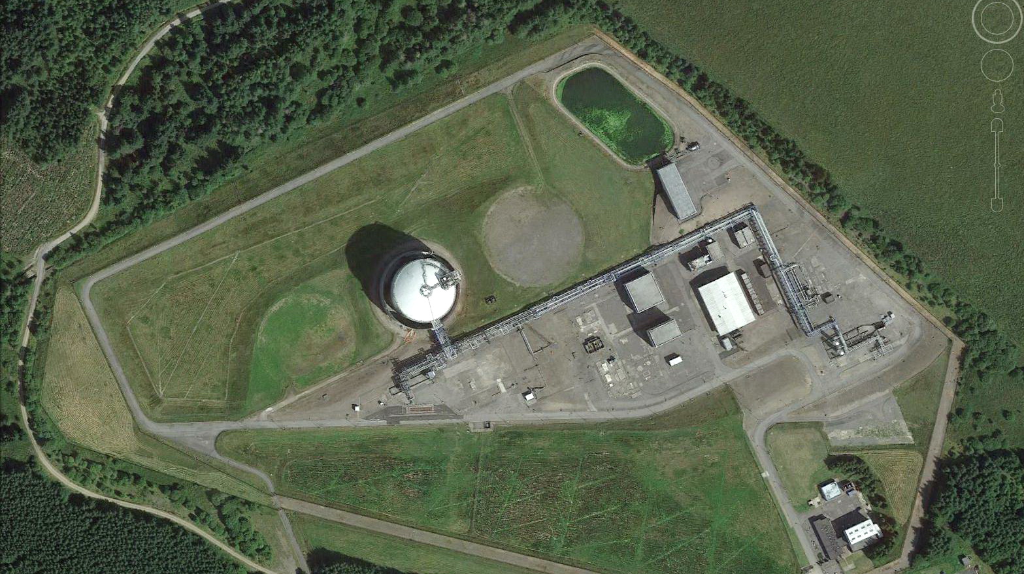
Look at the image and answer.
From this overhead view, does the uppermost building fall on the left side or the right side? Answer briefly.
right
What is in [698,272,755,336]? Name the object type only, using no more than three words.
building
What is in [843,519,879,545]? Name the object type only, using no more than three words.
building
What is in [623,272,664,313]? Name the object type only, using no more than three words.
house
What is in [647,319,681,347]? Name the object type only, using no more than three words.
house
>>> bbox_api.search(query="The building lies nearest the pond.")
[655,162,696,219]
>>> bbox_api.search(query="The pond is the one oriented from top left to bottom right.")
[556,67,674,163]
